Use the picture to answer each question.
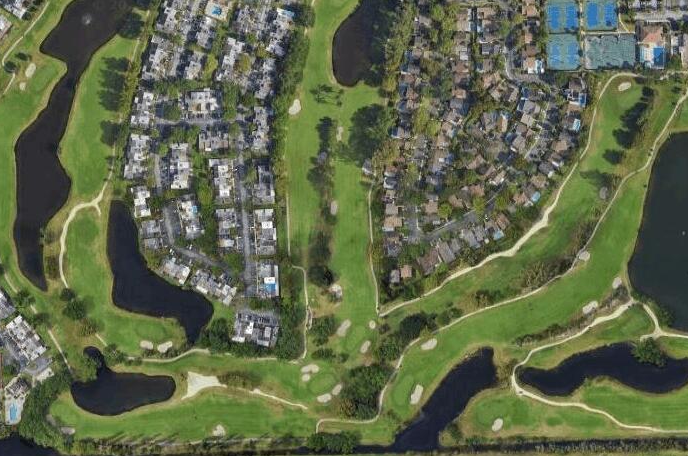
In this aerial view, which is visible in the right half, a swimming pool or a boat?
swimming pool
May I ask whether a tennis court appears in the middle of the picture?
No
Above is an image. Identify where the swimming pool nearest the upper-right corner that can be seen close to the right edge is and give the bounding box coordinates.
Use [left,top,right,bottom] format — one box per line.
[640,44,666,68]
